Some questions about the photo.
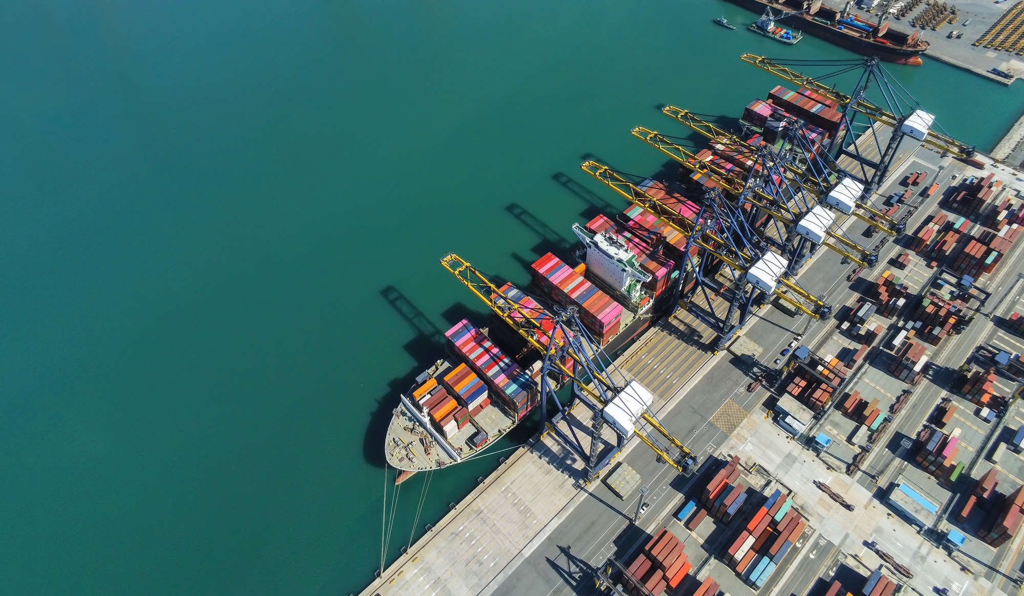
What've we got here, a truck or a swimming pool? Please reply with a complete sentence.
It is a truck that can be seen here.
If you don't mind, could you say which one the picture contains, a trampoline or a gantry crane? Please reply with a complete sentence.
Of the two, only a gantry crane appears.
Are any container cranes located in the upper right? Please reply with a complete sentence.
Yes, there is a container crane in the upper right.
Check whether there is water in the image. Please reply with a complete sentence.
Yes, water shows up in the scene.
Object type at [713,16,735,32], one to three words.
boat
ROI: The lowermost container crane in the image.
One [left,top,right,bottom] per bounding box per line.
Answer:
[587,552,659,596]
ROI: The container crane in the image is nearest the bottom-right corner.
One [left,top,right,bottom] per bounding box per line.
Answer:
[949,356,1024,430]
